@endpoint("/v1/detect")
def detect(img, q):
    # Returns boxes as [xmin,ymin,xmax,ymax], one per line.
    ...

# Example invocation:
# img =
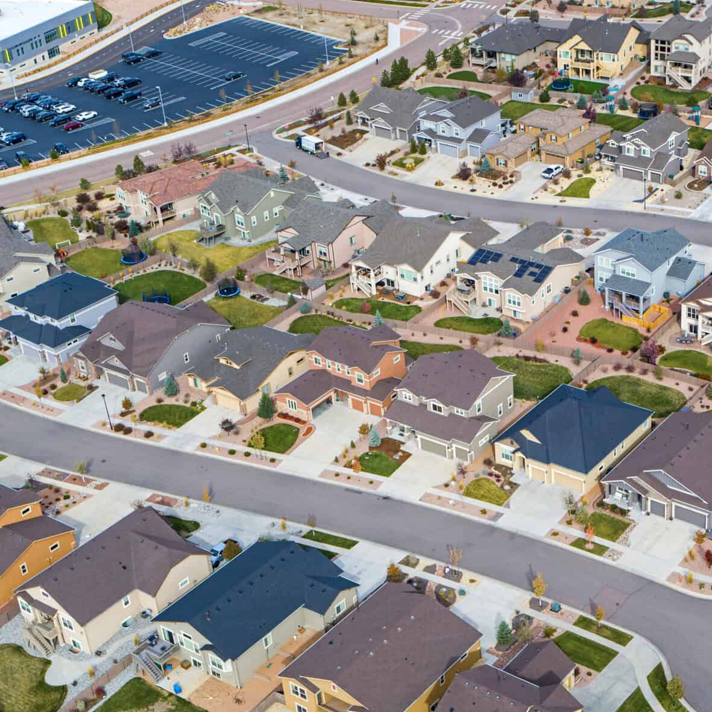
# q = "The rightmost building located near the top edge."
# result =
[650,16,712,88]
